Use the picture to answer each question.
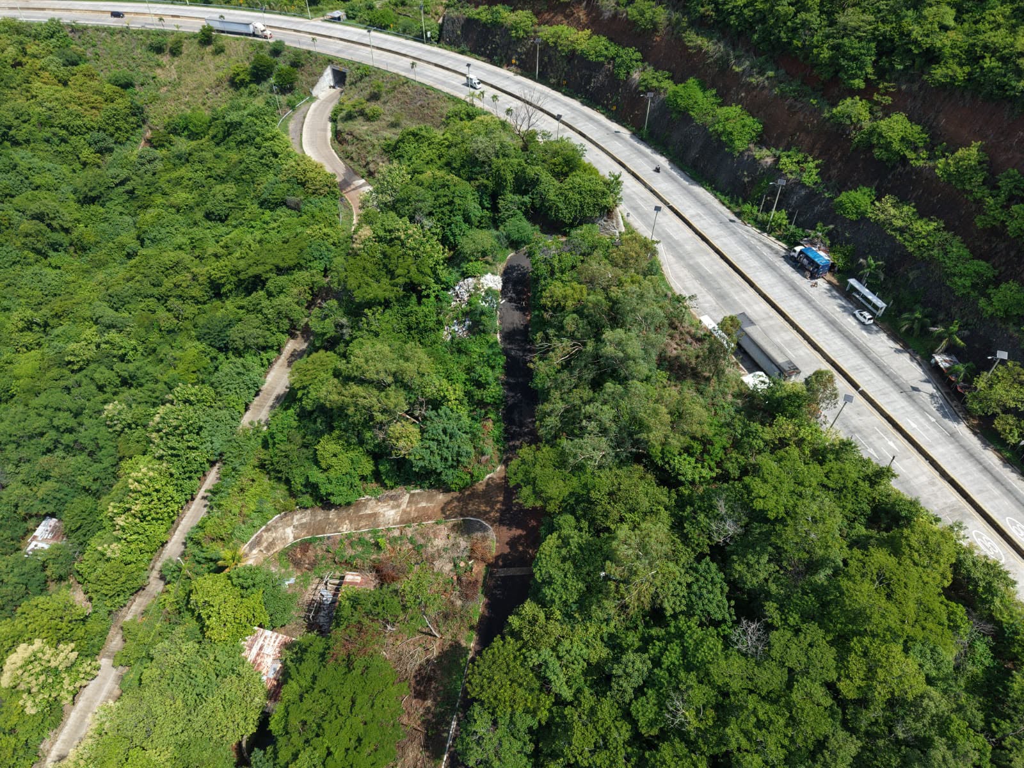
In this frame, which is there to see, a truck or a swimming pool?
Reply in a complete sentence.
It is a truck that can be seen here.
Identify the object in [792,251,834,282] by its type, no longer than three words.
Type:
truck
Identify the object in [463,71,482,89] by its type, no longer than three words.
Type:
vehicle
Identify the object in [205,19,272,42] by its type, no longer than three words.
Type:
truck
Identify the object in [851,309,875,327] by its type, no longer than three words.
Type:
car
